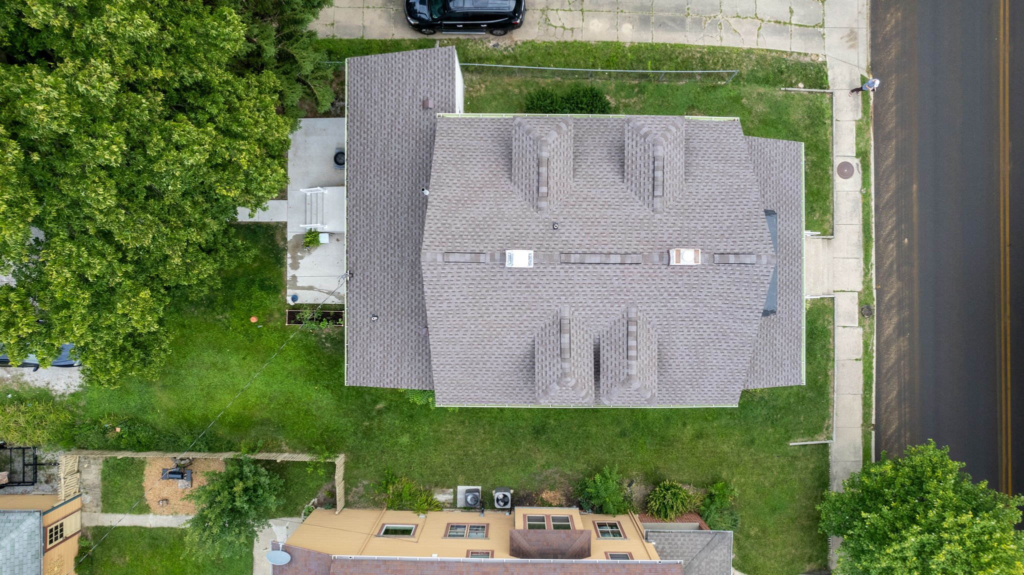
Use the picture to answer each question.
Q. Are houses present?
Yes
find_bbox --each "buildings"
[0,494,82,575]
[269,502,734,575]
[343,46,807,407]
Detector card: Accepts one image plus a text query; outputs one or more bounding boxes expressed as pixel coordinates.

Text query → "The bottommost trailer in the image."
[0,441,58,487]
